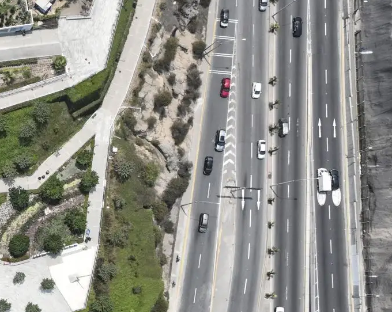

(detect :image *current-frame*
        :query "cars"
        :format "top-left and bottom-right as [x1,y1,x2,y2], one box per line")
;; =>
[219,7,230,28]
[198,212,210,233]
[203,155,214,175]
[257,0,268,12]
[220,77,231,98]
[291,14,304,36]
[215,129,227,151]
[329,168,341,190]
[255,139,267,159]
[250,80,261,99]
[278,116,290,139]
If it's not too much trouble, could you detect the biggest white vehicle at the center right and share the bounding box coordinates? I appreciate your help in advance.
[317,168,335,192]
